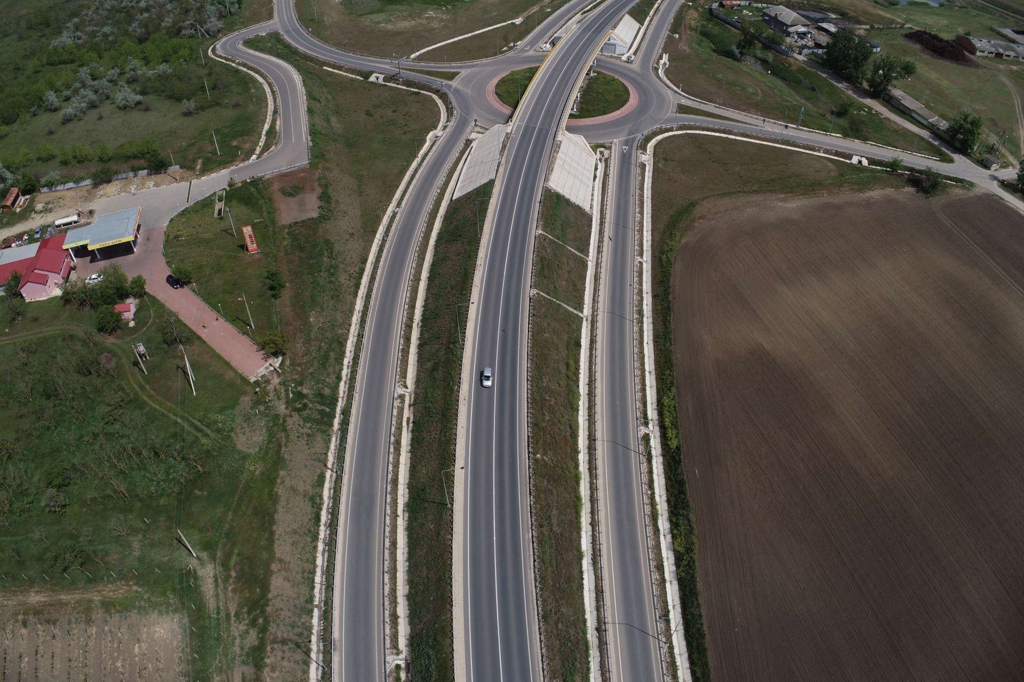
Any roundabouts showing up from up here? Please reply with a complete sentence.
Yes, there's a roundabout here.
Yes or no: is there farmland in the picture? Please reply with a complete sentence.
Yes, there's farmland in this view.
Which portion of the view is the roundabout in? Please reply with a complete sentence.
You can find the roundabout in the top area of the picture.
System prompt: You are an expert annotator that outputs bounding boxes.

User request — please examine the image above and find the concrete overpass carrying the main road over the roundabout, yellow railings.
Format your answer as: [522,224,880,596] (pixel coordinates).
[452,11,640,214]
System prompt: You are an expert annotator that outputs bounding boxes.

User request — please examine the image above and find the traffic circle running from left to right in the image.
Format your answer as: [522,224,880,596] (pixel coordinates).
[390,46,758,146]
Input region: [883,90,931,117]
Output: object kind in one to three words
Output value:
shed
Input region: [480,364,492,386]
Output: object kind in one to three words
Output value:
vehicle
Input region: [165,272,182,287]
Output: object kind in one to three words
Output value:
car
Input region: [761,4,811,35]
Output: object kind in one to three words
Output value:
house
